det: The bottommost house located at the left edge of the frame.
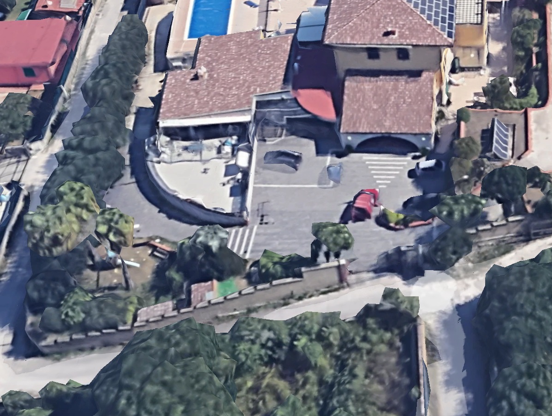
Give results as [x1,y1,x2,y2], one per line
[0,19,78,100]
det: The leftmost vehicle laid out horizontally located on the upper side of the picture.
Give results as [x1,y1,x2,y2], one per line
[261,147,306,172]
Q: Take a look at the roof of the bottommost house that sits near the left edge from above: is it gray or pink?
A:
pink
